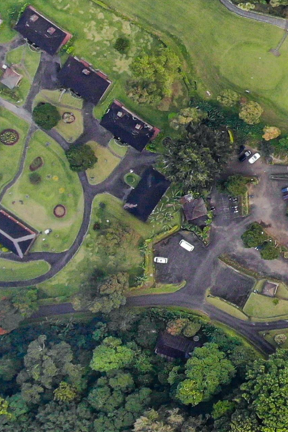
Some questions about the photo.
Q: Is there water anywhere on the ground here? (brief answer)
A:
No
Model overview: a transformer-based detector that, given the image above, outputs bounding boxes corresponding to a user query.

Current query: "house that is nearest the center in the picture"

[124,167,173,222]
